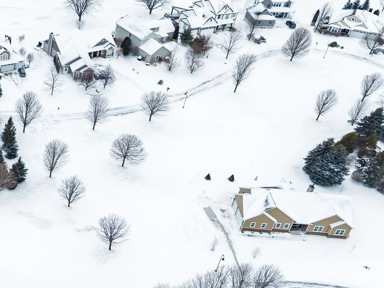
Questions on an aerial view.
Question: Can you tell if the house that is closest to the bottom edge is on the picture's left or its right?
right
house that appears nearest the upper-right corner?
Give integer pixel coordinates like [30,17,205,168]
[323,0,380,42]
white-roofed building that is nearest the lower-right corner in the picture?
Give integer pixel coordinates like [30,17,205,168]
[229,177,355,241]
